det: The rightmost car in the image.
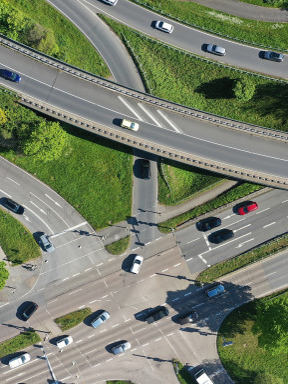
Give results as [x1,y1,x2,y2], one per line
[263,50,286,64]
